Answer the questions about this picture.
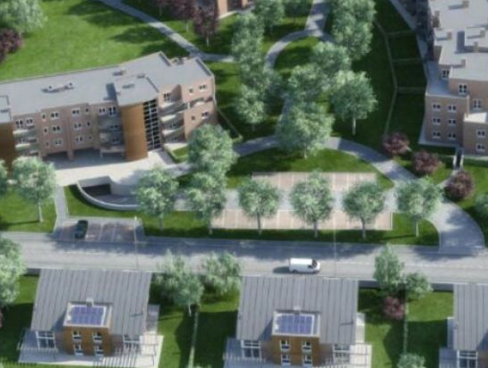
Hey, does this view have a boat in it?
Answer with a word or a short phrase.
No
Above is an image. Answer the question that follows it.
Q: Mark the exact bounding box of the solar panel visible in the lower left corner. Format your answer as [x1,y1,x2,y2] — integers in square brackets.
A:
[67,297,106,323]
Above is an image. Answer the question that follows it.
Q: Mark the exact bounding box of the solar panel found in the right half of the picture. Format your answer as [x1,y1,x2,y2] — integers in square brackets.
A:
[277,306,314,333]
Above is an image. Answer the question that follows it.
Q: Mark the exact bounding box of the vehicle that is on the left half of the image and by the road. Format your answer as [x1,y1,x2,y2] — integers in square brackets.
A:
[76,219,88,237]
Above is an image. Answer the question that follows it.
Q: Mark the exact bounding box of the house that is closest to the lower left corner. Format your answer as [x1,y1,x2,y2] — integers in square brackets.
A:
[30,267,150,353]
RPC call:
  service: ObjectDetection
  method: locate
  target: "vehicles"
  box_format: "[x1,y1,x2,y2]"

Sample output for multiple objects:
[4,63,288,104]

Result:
[290,256,321,276]
[76,219,88,237]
